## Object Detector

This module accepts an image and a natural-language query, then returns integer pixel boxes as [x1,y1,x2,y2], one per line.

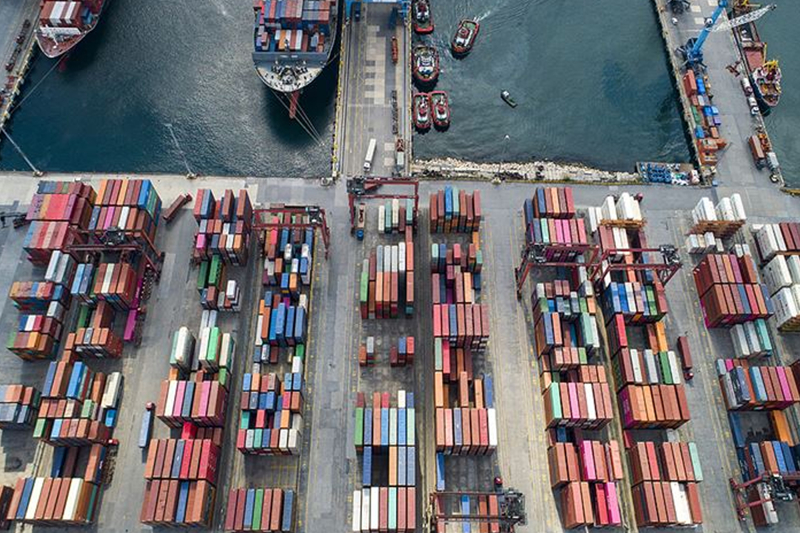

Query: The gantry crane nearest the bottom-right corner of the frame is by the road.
[731,472,800,513]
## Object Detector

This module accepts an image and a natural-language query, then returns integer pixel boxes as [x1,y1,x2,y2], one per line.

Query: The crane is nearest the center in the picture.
[346,177,420,232]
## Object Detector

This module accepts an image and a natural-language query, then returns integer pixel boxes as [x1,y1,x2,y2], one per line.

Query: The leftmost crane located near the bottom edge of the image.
[427,488,523,530]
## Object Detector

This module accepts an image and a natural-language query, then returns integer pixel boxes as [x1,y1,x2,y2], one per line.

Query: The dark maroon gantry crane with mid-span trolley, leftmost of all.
[61,227,166,280]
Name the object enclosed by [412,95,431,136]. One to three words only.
boat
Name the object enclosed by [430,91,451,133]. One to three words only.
boat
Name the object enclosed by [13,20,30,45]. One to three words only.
vehicle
